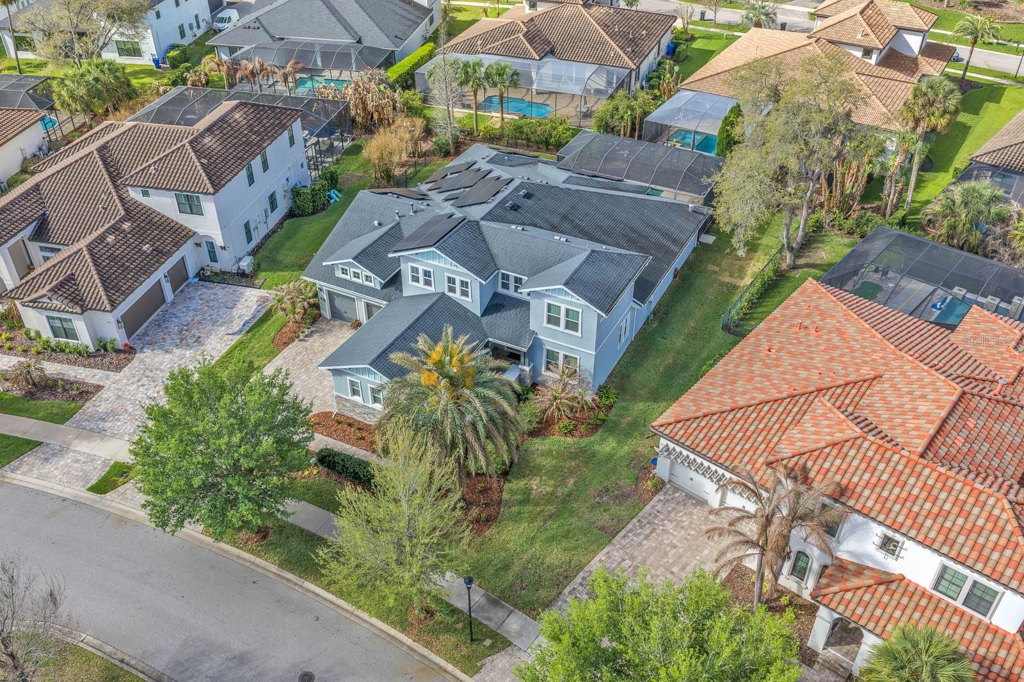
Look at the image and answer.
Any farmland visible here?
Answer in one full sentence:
No, farmland can't be seen anywhere here.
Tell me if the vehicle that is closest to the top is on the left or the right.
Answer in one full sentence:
It is on the left.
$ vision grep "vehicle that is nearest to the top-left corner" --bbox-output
[209,5,238,28]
